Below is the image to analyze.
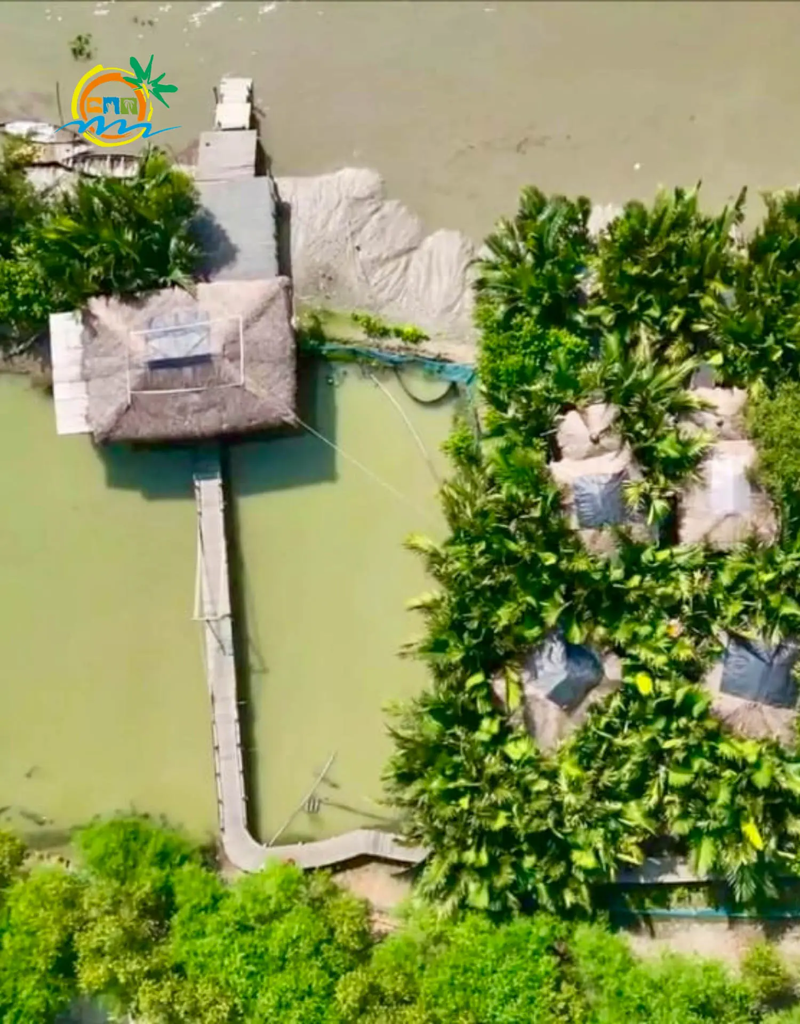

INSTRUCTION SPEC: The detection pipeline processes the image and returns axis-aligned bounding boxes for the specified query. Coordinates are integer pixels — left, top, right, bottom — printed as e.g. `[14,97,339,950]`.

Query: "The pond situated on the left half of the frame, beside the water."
[0,352,485,856]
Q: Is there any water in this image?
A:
Yes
